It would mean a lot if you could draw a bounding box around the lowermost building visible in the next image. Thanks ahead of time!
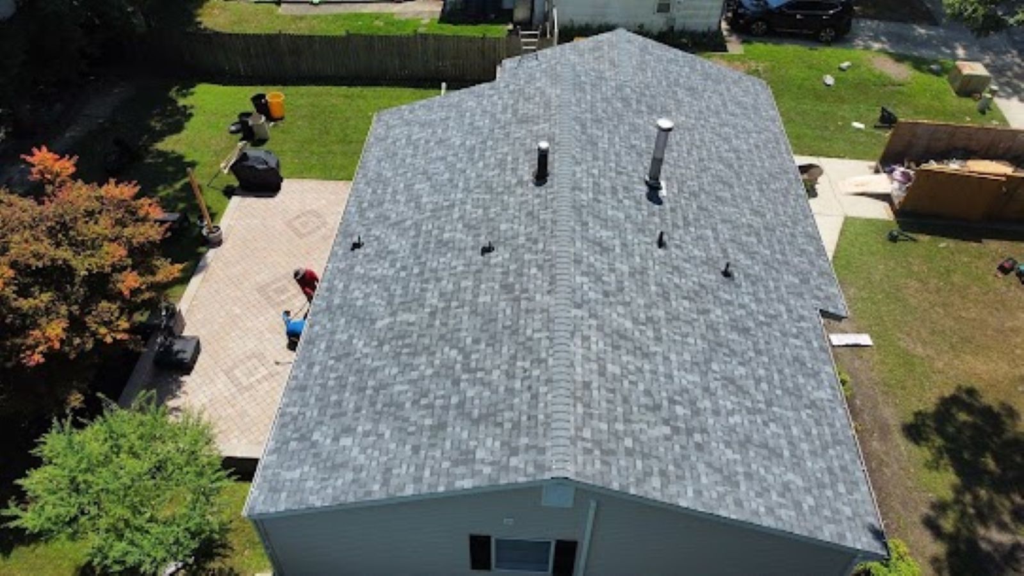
[240,26,894,576]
